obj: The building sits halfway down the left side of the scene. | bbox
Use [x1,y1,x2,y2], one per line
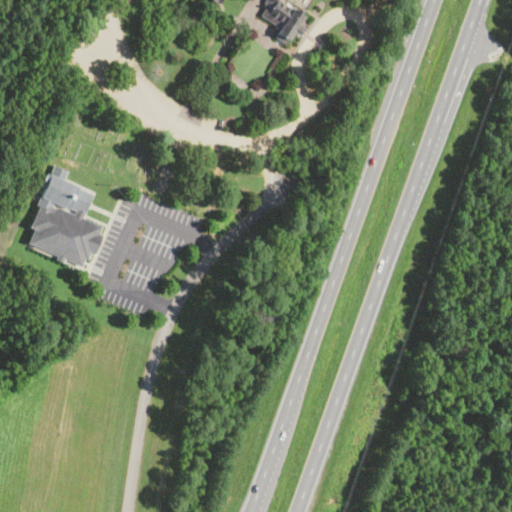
[28,167,102,268]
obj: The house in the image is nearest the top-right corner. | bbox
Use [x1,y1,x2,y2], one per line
[258,0,310,46]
